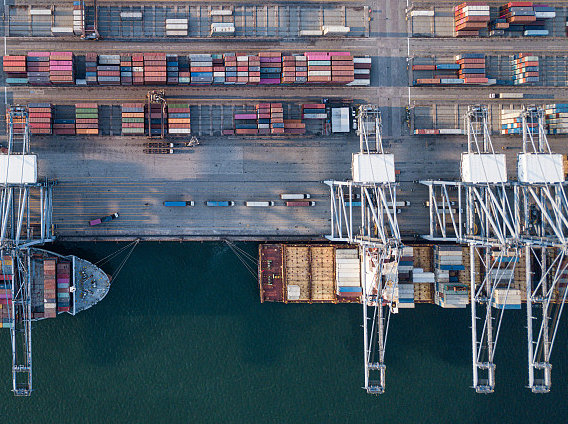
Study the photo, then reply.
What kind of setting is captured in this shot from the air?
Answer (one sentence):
It's a port.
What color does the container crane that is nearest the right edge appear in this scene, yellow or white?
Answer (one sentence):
The container crane that is nearest the right edge looks white in the image.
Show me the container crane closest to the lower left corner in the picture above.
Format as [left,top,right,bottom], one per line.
[0,103,68,398]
